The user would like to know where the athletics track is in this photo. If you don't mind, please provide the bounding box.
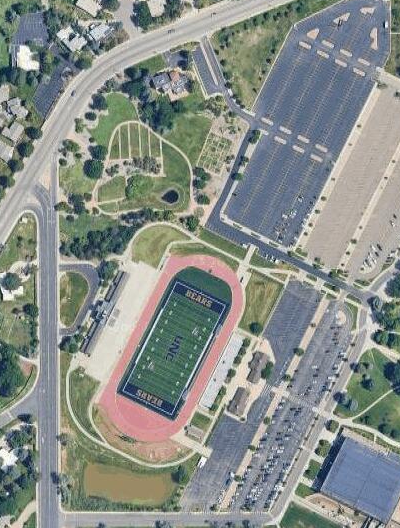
[107,251,242,437]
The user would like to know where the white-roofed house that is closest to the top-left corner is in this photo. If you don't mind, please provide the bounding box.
[17,46,38,73]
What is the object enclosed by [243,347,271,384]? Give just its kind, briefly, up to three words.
building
